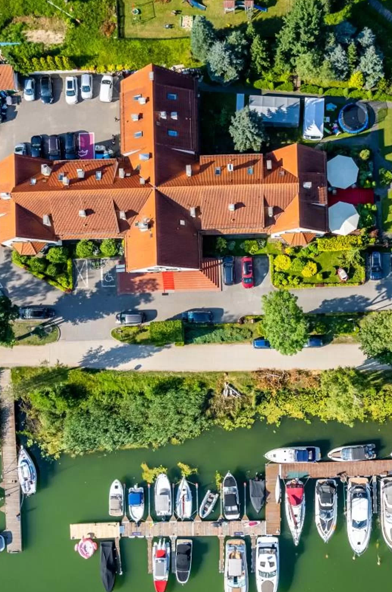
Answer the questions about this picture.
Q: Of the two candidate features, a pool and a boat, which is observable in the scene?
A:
boat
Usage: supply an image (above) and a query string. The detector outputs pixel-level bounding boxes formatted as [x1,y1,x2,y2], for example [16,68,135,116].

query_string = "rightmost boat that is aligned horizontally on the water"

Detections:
[328,443,380,463]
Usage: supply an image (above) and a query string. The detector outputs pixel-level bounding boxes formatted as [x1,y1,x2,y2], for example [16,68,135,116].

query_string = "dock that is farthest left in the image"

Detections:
[0,370,22,553]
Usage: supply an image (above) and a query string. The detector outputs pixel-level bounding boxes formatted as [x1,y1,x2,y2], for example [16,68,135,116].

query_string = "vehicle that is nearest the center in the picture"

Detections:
[181,308,214,324]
